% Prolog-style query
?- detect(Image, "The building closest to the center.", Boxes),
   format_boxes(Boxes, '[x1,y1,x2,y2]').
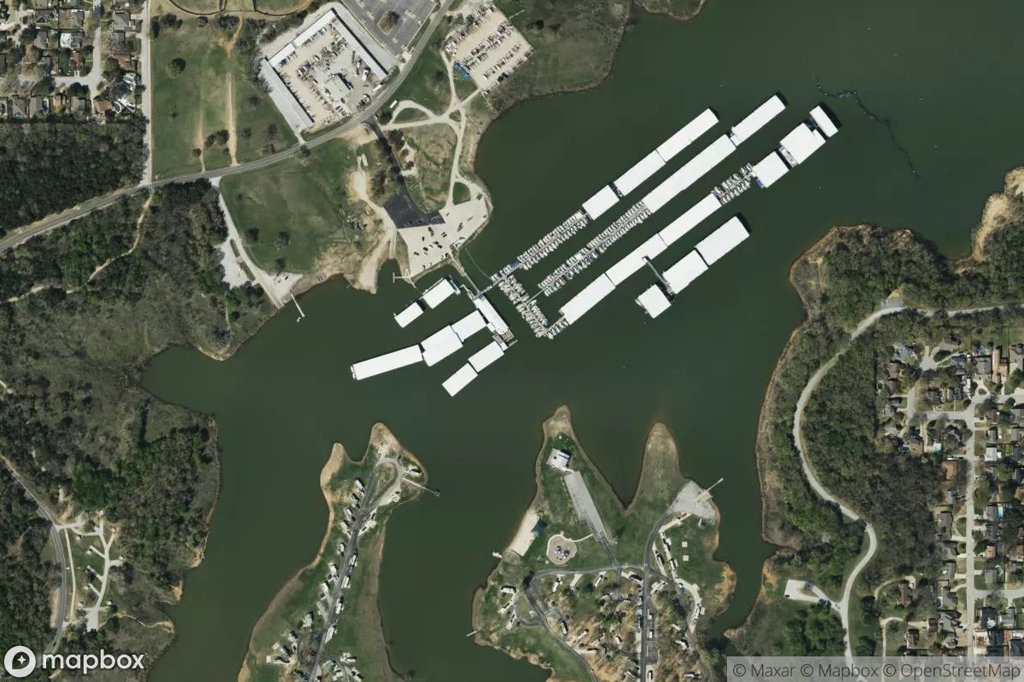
[474,295,509,335]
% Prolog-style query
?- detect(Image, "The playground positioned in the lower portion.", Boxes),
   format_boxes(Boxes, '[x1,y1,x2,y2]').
[547,534,577,565]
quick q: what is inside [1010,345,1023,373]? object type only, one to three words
house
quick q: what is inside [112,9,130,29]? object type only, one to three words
house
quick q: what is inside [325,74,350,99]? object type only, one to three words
building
